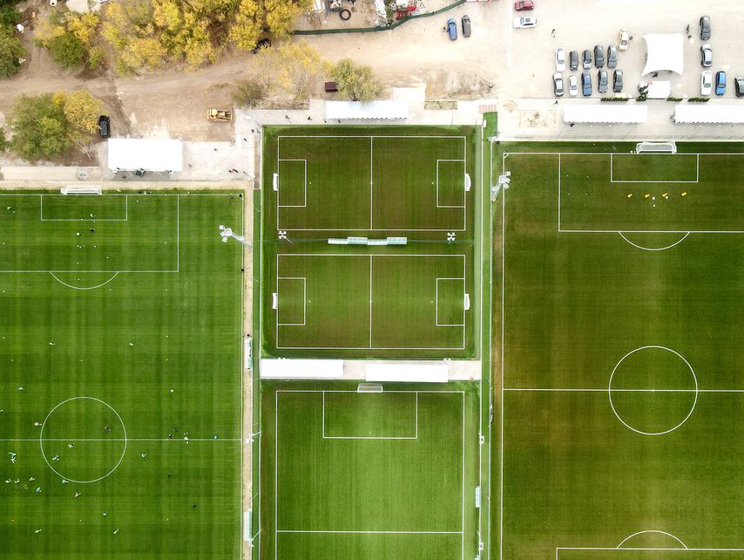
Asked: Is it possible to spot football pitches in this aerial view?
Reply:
Yes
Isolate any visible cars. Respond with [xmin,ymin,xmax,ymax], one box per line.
[735,75,744,96]
[514,0,535,10]
[514,15,538,28]
[461,13,473,37]
[583,48,593,69]
[700,13,712,38]
[598,69,609,91]
[701,43,713,66]
[607,44,619,67]
[553,73,564,94]
[568,74,580,95]
[613,69,625,90]
[716,71,729,94]
[447,17,458,38]
[97,113,109,137]
[569,49,581,71]
[555,47,566,71]
[701,71,712,94]
[594,43,606,67]
[618,26,631,50]
[582,71,594,94]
